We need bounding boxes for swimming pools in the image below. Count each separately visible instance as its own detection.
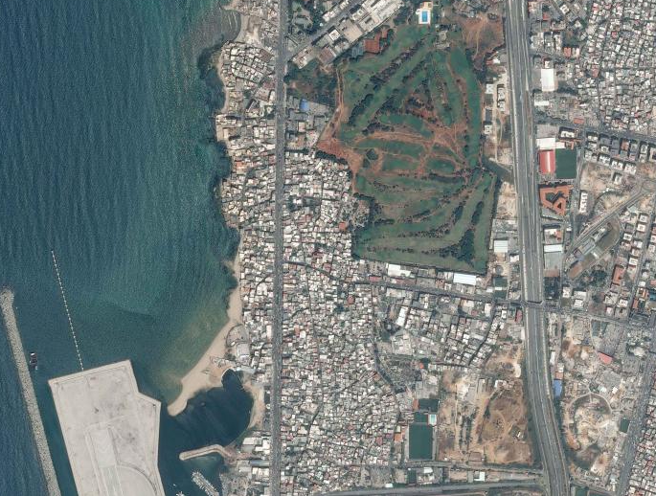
[419,9,431,25]
[429,413,437,425]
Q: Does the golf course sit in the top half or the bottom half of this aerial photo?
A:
top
